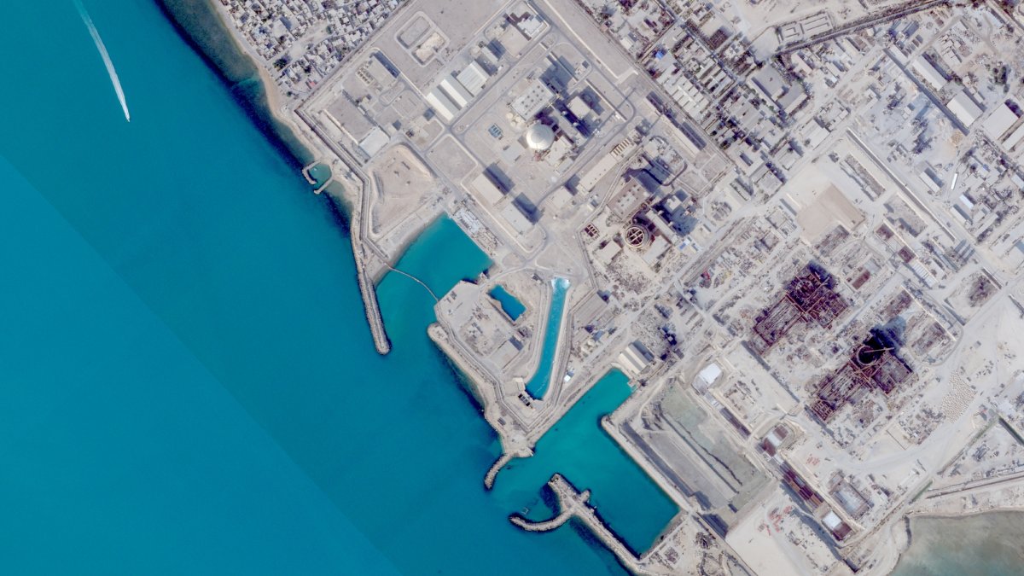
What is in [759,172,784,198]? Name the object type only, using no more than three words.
shed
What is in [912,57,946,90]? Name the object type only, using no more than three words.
building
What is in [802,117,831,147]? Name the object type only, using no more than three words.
building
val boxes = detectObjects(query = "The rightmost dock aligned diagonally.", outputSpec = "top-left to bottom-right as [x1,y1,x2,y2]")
[548,473,646,576]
